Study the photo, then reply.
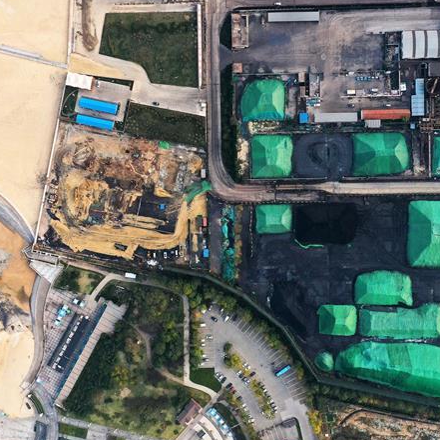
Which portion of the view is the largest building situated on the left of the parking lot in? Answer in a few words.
bottom left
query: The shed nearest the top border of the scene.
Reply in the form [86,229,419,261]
[268,11,320,24]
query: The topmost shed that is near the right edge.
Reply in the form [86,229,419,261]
[400,32,440,61]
